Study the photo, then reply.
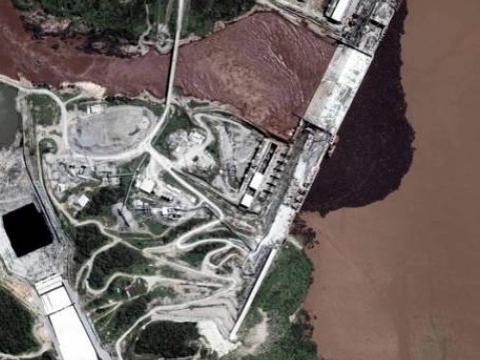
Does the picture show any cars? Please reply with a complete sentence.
No, the frame has no car in it.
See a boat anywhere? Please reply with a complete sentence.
No, I can't see a single boat in this photo.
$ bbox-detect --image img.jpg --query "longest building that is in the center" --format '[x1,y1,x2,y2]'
[240,140,289,209]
